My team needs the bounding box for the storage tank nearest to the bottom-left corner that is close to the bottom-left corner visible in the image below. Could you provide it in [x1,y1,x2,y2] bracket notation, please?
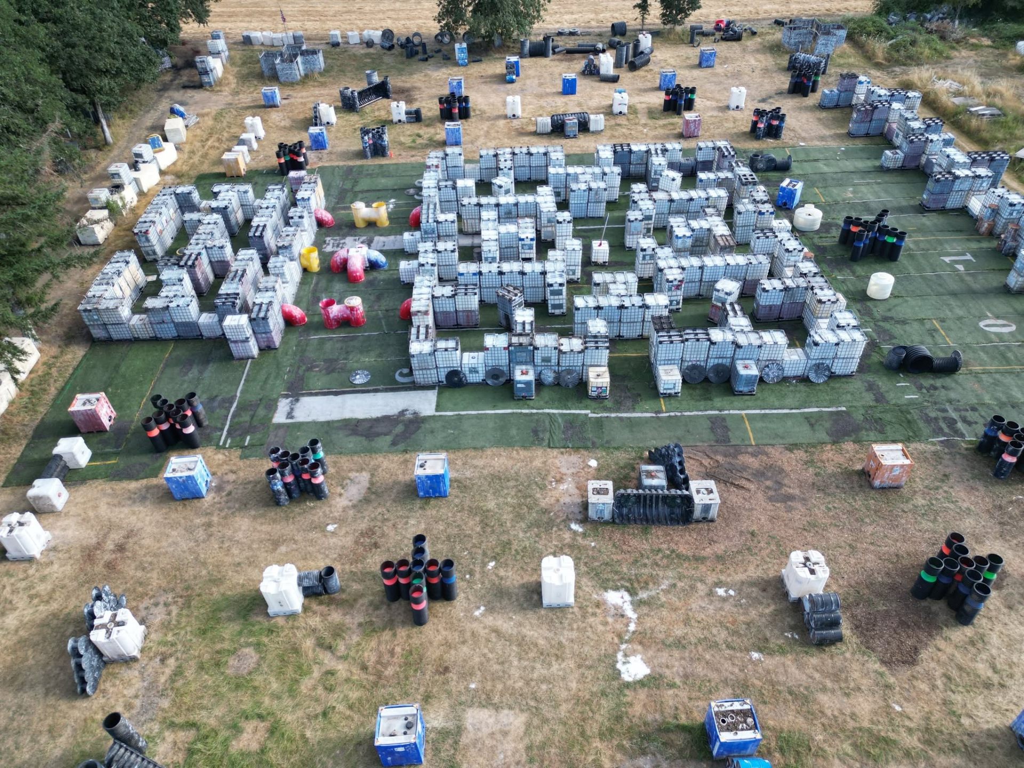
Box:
[96,614,146,663]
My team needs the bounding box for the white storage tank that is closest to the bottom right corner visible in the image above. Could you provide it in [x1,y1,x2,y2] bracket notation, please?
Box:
[780,553,826,600]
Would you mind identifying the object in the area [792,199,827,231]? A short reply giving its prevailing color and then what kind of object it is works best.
white water tank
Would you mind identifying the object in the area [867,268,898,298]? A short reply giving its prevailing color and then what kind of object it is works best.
white water tank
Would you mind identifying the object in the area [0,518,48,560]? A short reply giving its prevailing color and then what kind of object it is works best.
white storage tank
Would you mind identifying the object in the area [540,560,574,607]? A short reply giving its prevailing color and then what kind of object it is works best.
white storage tank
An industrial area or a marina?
industrial area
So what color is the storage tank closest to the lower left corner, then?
white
